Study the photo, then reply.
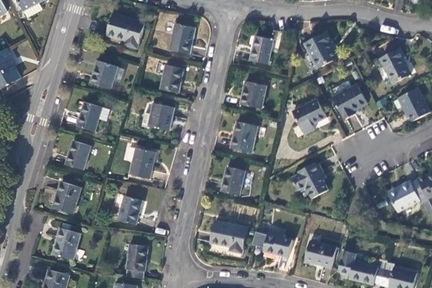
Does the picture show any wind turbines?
No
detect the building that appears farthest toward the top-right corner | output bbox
[376,48,410,84]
